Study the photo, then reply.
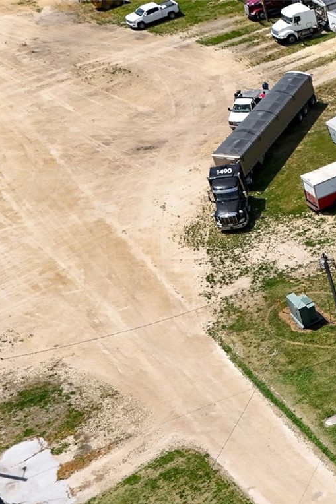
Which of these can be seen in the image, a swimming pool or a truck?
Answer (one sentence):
The one in the frame is a truck.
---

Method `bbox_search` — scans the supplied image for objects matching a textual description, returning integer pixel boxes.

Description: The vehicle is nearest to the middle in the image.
[209,157,255,231]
